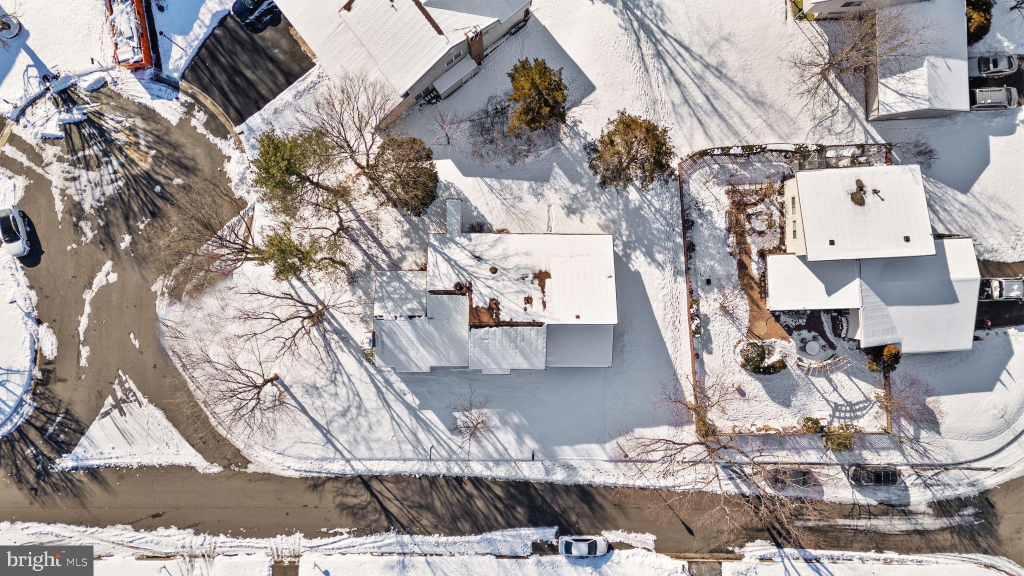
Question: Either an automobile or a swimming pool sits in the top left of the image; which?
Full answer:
The feature located in the top left of the image is an automobile.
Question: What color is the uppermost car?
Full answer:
From above, the uppermost car appears black.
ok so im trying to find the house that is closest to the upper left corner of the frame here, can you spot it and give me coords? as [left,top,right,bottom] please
[276,0,532,132]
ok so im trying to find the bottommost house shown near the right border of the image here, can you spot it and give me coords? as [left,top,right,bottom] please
[757,164,981,354]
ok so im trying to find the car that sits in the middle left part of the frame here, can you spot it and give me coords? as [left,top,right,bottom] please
[0,205,29,256]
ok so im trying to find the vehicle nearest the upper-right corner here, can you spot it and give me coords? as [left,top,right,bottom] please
[969,54,1018,77]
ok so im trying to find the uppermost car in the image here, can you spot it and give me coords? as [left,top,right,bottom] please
[231,0,276,28]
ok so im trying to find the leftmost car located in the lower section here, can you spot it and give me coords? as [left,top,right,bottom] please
[559,534,608,557]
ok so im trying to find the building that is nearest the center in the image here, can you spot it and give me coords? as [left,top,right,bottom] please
[364,199,618,375]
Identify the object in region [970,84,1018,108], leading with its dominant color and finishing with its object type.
gray car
